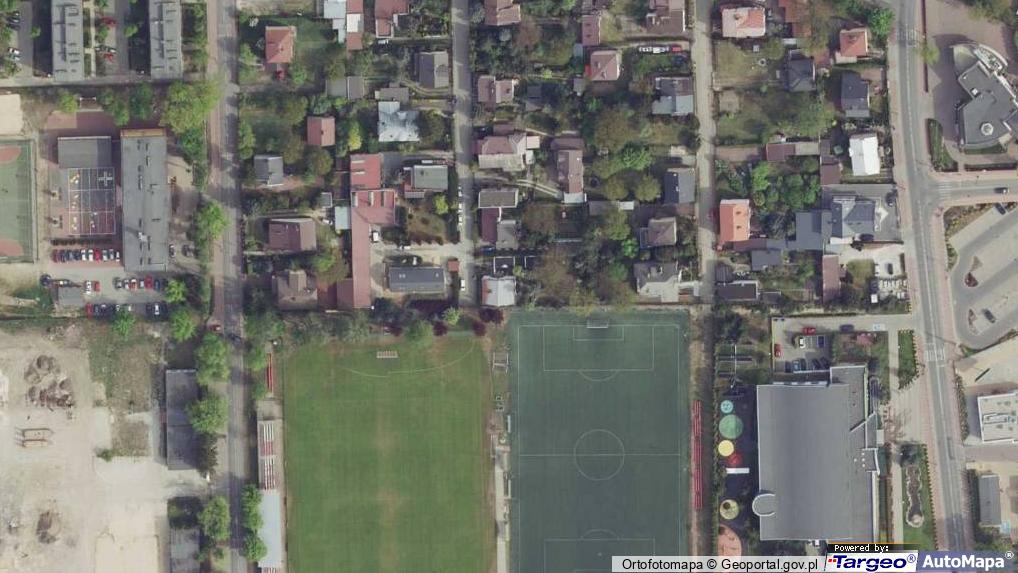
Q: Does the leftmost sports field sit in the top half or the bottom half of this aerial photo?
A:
bottom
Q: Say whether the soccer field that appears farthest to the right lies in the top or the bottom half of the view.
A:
bottom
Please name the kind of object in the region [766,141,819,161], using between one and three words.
shed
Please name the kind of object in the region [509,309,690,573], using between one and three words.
soccer field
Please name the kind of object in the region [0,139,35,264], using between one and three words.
sports court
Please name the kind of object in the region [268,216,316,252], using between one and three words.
house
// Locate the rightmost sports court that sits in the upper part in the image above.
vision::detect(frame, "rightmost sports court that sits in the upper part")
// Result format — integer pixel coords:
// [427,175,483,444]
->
[69,168,115,235]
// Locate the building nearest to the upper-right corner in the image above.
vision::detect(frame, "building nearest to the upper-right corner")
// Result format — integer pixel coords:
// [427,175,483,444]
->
[949,37,1018,153]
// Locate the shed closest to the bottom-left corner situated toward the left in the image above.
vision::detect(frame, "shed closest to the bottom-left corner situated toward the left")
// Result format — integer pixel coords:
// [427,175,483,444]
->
[169,526,201,573]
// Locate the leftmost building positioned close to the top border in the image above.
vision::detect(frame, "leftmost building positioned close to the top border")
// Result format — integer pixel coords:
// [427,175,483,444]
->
[52,0,85,81]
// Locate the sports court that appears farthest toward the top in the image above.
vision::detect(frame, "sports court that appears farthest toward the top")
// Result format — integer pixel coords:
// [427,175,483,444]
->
[0,95,21,135]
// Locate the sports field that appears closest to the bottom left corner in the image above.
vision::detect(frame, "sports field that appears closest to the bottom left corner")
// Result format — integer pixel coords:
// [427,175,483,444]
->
[269,312,510,573]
